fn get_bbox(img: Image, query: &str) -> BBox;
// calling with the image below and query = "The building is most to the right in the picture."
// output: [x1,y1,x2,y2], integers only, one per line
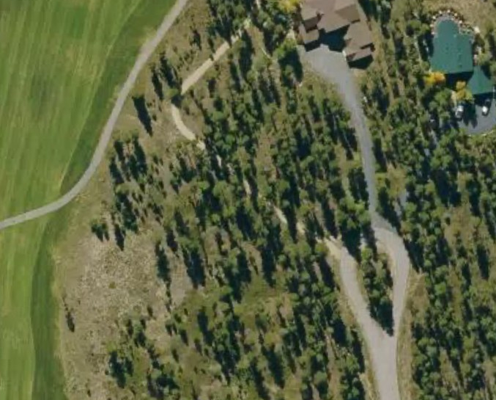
[466,65,495,94]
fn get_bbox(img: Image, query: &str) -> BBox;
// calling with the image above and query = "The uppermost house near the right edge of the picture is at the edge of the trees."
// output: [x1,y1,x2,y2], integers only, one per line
[432,16,474,73]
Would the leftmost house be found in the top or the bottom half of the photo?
top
